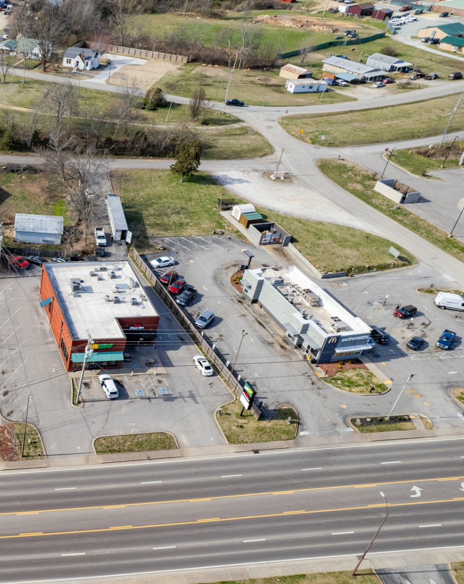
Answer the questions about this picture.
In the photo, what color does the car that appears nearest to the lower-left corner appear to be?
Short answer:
white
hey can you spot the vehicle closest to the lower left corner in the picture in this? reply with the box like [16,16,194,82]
[99,376,118,397]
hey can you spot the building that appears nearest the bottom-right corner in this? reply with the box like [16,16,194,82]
[234,266,379,365]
